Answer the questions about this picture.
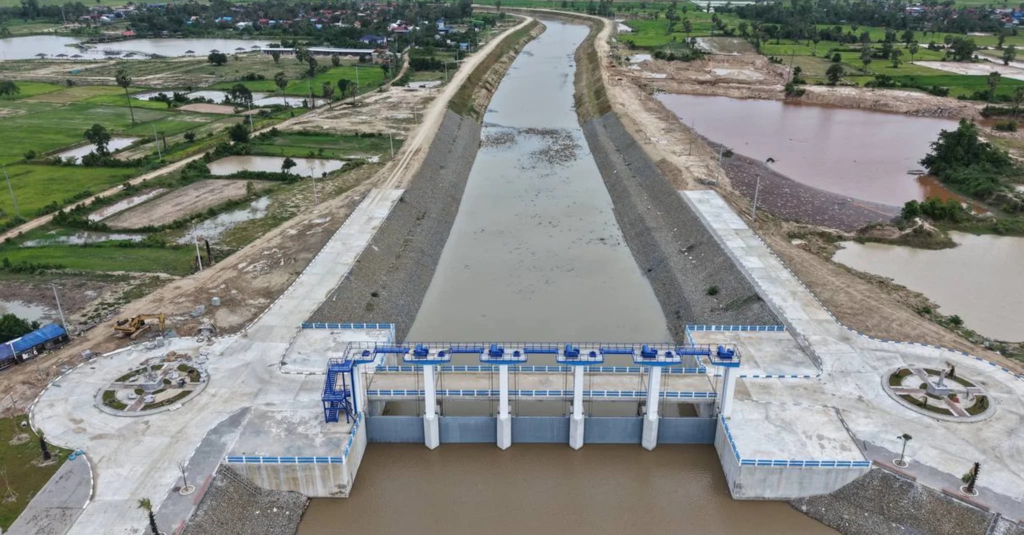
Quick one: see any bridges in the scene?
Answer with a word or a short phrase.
Yes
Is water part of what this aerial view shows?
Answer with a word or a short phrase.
Yes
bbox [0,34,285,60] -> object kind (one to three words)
pond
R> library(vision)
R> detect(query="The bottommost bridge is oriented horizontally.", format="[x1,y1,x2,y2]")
[375,370,711,405]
